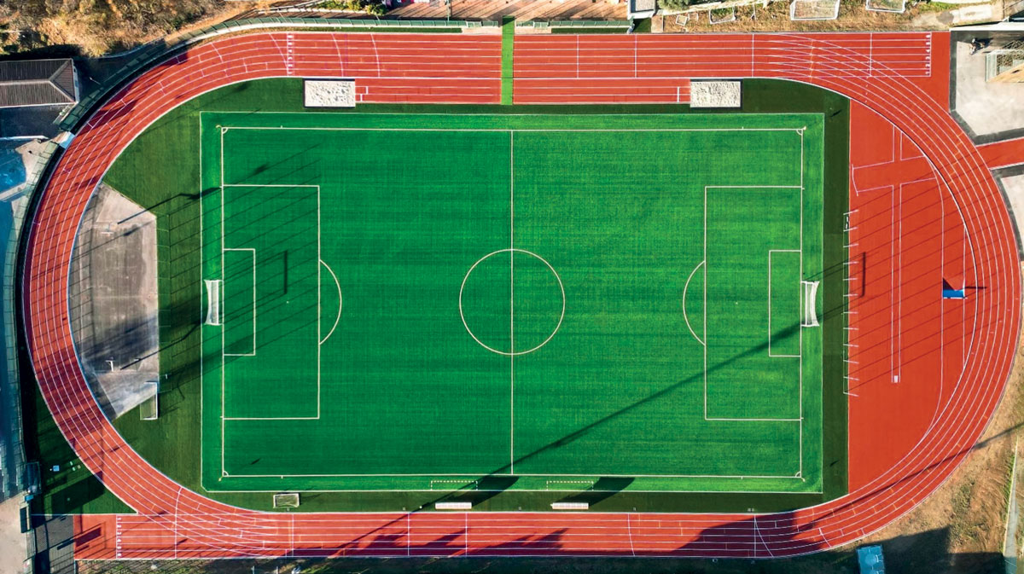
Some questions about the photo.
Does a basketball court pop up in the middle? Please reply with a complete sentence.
No, no basketball court appears in the middle.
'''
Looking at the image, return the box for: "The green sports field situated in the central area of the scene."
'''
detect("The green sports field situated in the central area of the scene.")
[200,112,825,494]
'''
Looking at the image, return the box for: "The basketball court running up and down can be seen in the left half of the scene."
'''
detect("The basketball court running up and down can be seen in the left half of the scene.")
[69,181,159,422]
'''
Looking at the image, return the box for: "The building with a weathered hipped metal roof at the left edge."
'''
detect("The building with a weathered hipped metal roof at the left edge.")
[0,58,83,107]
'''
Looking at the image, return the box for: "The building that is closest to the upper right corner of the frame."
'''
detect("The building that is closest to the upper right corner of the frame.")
[986,50,1024,83]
